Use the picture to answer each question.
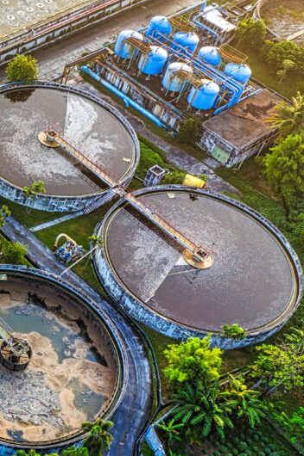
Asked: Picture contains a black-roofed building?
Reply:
No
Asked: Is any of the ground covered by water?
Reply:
Yes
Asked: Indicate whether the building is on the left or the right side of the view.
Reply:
right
